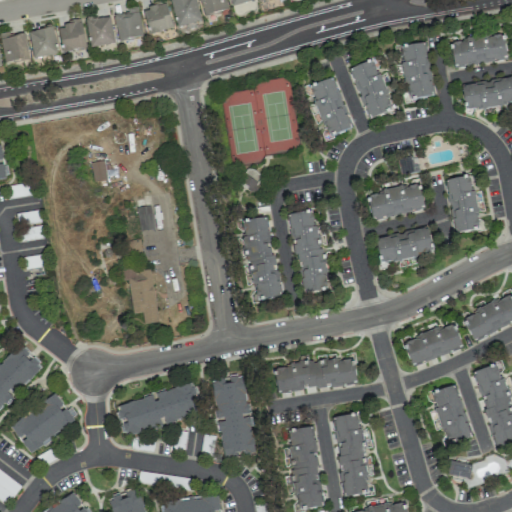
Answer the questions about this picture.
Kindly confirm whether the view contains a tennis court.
Yes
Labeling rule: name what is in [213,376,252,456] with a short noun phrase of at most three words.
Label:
building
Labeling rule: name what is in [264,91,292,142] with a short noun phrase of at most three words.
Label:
tennis court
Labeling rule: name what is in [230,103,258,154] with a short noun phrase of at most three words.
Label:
tennis court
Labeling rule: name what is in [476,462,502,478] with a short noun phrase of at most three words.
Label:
swimming pool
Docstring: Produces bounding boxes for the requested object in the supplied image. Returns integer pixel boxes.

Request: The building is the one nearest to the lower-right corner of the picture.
[450,461,474,480]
